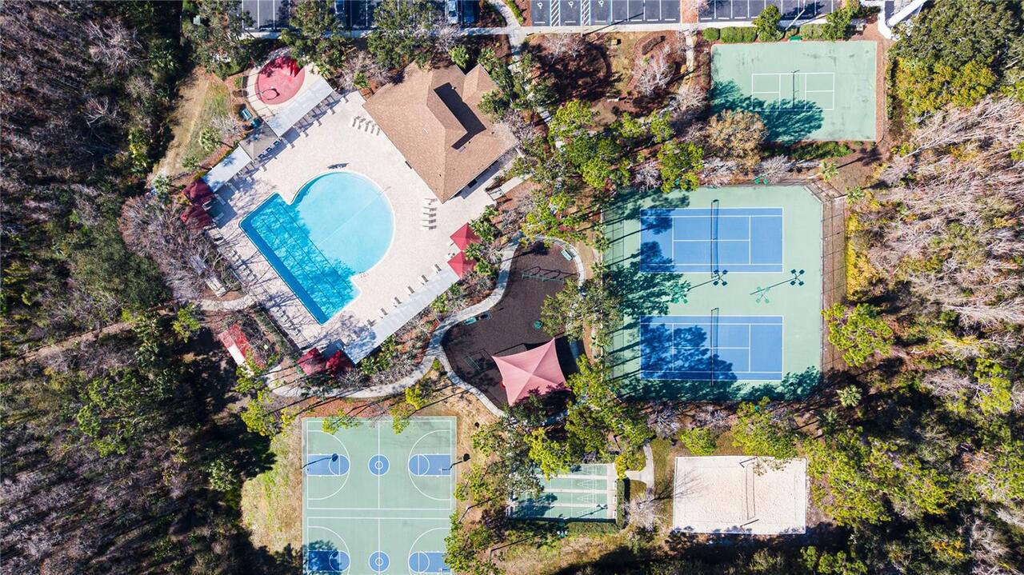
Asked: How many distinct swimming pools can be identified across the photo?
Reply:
one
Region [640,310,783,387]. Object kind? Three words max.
tennis court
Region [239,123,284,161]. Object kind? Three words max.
building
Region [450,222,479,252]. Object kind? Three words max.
umbrella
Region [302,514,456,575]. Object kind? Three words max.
basketball court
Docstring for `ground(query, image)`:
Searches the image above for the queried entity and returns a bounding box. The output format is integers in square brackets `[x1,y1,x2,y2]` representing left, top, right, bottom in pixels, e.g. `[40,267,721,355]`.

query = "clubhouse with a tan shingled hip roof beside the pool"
[363,45,517,203]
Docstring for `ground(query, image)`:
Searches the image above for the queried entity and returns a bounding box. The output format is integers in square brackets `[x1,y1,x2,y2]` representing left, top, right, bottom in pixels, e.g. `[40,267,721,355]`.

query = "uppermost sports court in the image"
[711,41,877,143]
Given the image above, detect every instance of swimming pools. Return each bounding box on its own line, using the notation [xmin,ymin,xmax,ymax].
[239,170,395,326]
